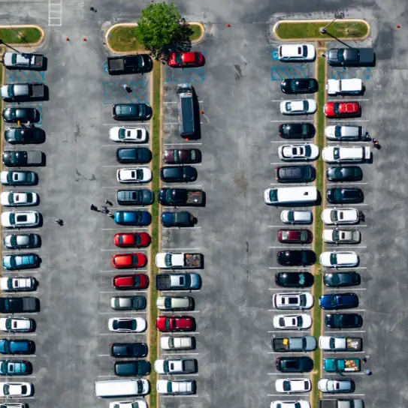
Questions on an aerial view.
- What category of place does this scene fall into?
parking lot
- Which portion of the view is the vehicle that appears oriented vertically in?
top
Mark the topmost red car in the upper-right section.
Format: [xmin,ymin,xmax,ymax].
[323,100,361,118]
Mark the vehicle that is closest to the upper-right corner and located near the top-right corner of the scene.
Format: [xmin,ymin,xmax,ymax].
[327,47,375,66]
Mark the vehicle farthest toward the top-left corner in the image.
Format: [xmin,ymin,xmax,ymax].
[3,51,45,69]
